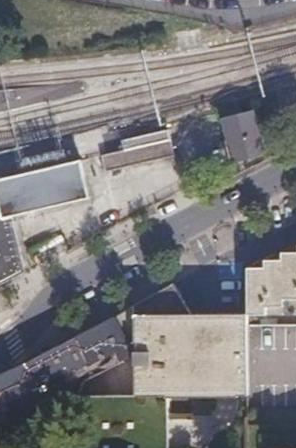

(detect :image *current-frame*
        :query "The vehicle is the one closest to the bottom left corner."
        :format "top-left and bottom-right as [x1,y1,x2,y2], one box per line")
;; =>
[78,286,99,302]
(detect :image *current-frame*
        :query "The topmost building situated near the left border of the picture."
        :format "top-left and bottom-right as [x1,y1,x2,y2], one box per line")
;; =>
[0,161,88,218]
